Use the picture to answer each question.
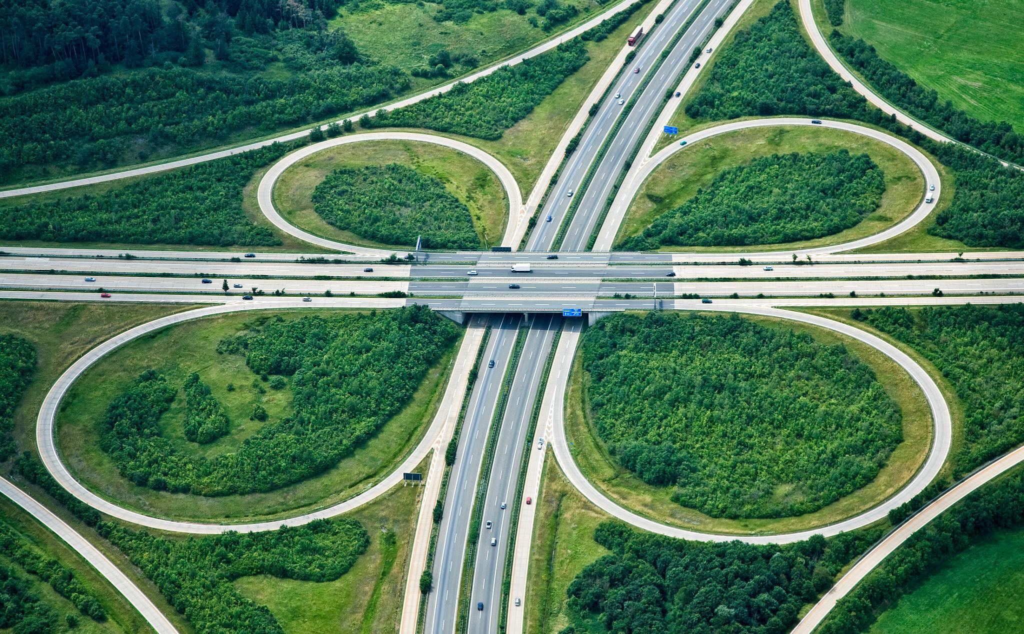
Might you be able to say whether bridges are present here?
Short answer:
Yes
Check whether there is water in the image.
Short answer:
No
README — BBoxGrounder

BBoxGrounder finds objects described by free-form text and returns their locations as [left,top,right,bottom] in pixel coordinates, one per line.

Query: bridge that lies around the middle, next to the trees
[430,250,642,324]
